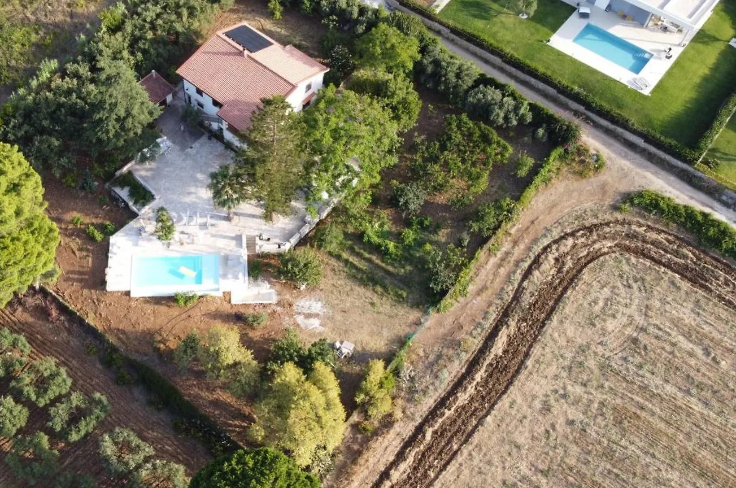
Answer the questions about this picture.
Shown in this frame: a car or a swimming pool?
swimming pool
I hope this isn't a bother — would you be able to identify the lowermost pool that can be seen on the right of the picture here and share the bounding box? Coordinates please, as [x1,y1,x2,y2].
[573,24,652,73]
